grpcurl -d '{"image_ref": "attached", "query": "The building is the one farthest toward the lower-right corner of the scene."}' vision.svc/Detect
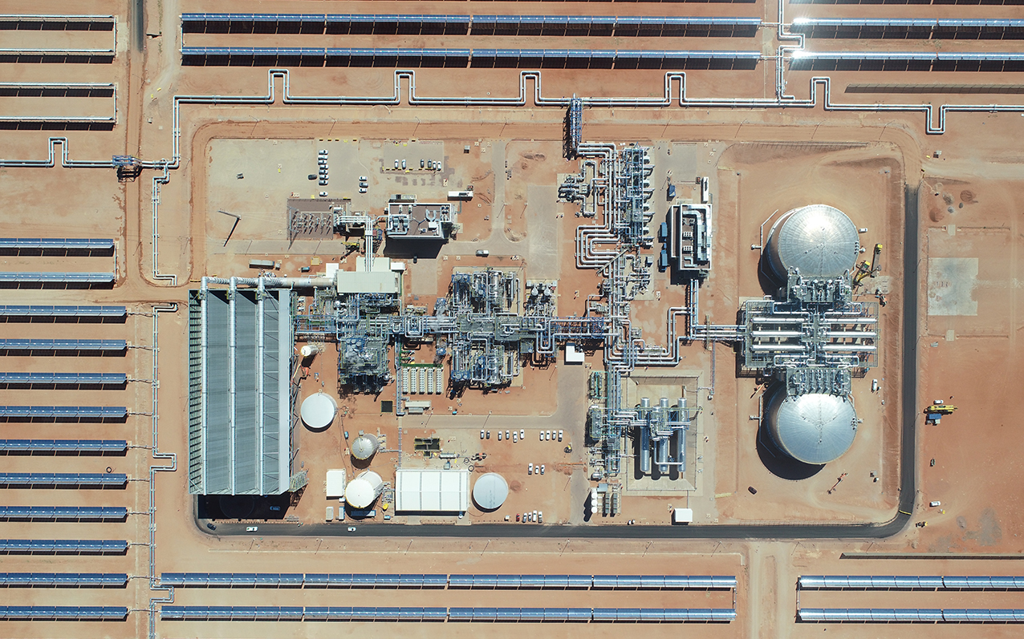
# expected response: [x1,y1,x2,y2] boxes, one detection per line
[673,506,693,523]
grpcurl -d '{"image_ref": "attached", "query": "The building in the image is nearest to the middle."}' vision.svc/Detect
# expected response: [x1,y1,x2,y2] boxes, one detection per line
[565,343,585,362]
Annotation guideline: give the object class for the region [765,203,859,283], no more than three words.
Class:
storage tank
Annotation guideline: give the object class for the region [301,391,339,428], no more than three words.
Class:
storage tank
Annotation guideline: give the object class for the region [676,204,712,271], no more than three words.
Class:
building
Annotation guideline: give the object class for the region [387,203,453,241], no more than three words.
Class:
building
